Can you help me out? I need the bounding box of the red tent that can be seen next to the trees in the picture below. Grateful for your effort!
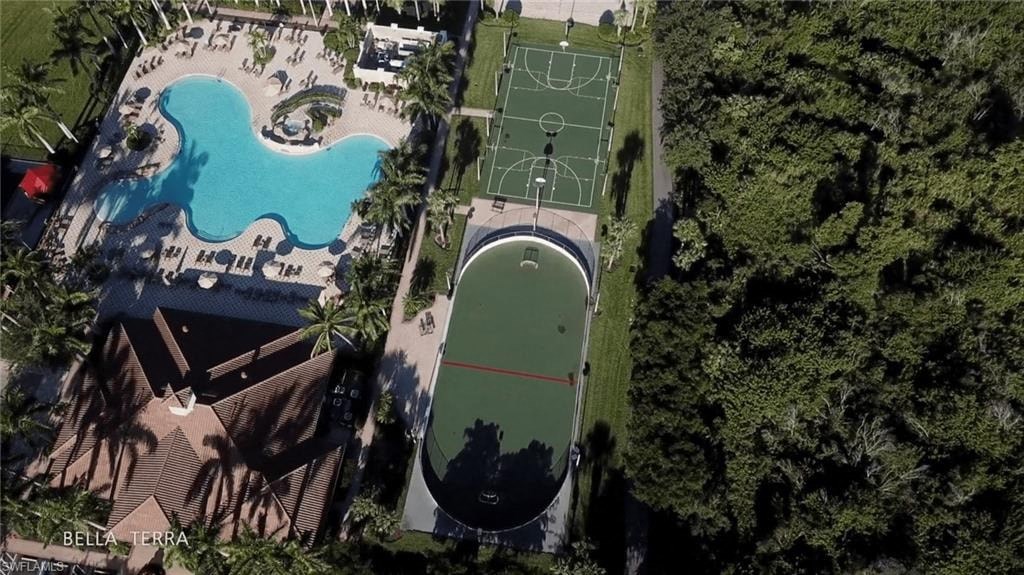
[18,164,61,202]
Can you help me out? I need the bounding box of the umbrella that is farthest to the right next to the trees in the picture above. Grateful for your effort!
[376,96,396,114]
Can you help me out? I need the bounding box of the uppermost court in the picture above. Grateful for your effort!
[519,0,637,24]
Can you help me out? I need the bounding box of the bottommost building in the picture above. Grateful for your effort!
[46,306,341,554]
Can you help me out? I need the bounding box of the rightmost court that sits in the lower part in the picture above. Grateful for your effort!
[418,228,592,534]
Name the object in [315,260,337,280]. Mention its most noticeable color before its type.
white umbrella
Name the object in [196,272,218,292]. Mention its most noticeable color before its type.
white umbrella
